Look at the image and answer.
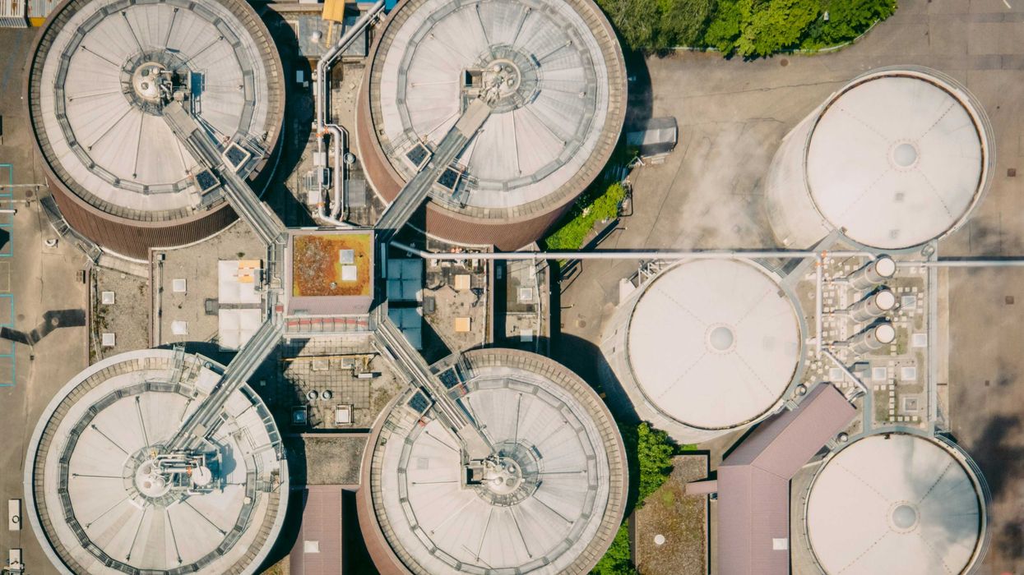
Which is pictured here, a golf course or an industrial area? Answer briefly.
industrial area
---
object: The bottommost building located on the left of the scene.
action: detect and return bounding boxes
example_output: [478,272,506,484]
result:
[289,487,342,575]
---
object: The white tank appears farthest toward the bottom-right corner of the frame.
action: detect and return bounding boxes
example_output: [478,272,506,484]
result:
[788,428,997,575]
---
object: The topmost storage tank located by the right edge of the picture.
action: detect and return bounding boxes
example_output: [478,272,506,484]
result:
[765,58,1001,257]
